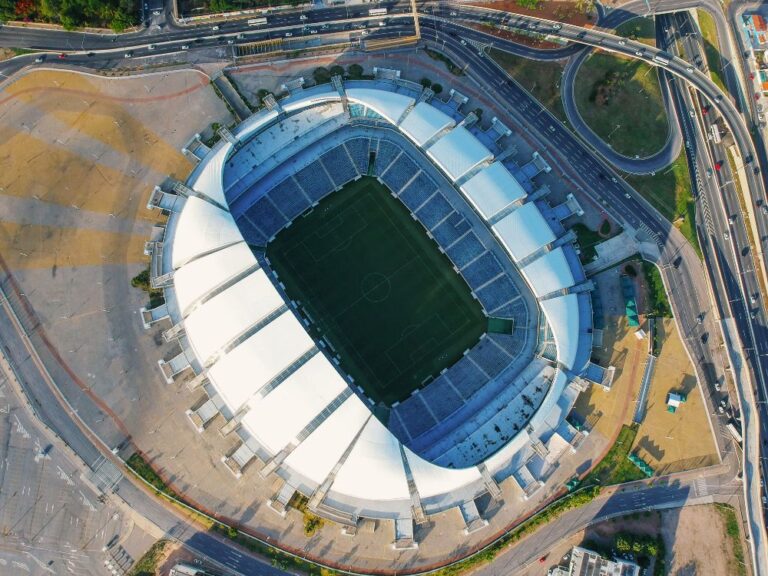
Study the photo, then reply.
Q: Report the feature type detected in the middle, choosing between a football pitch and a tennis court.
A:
football pitch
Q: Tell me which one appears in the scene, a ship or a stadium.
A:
stadium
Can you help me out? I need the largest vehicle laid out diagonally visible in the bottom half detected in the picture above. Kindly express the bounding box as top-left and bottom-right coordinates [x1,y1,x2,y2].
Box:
[723,424,741,442]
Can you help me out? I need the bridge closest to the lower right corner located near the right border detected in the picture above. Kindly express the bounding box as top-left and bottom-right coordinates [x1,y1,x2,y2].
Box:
[697,214,768,576]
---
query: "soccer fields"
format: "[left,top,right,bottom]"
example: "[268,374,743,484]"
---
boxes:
[265,175,489,409]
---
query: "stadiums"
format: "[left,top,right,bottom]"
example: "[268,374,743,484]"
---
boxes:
[140,67,616,549]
